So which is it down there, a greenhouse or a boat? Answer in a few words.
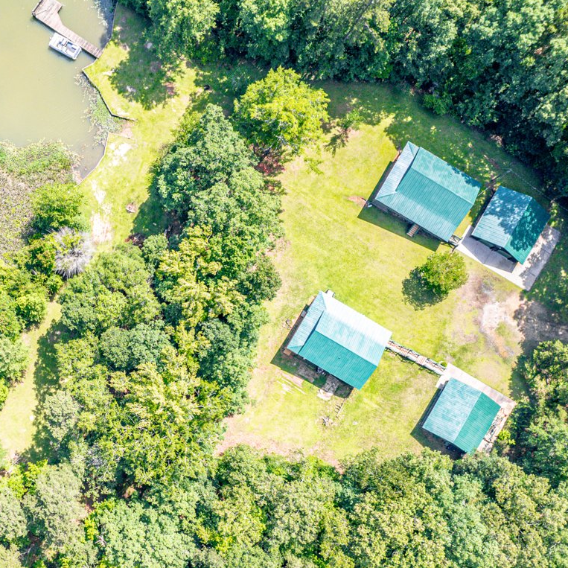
boat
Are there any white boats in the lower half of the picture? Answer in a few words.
No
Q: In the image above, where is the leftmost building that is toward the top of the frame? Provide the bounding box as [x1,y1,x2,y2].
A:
[369,141,482,242]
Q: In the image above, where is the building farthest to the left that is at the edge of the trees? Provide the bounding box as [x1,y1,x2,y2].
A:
[276,287,393,389]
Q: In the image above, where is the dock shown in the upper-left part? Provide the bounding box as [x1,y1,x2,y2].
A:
[33,0,102,57]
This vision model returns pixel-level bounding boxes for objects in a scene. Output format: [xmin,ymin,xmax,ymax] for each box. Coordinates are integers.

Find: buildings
[276,287,393,389]
[467,186,551,264]
[419,377,502,456]
[369,141,482,242]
